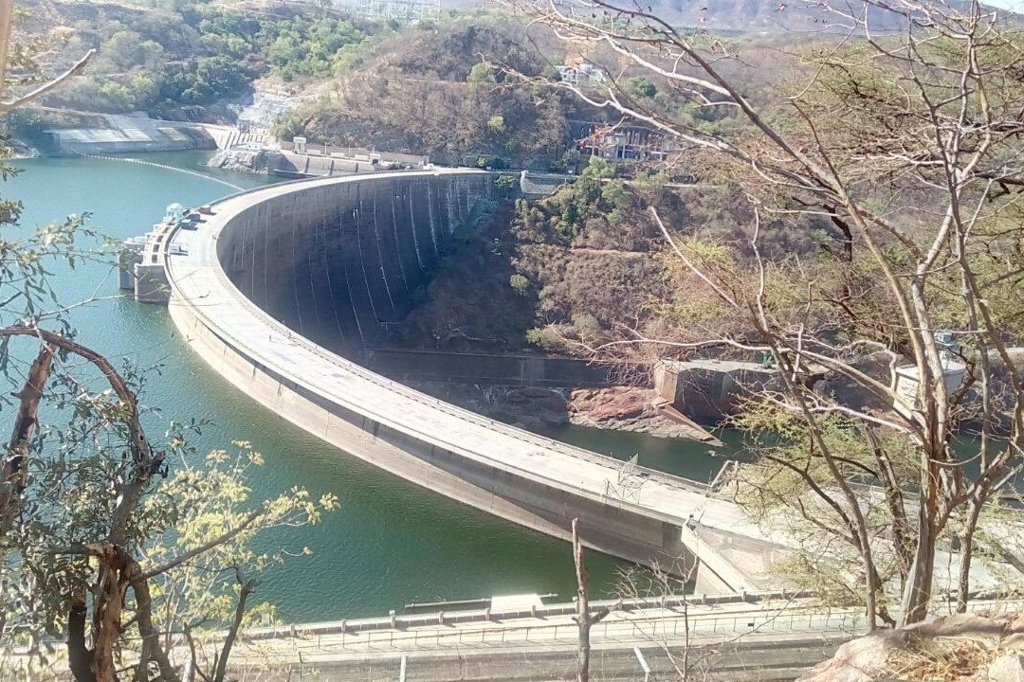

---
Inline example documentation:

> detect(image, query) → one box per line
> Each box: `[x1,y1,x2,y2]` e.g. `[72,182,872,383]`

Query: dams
[159,166,790,584]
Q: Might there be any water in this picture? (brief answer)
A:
Yes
